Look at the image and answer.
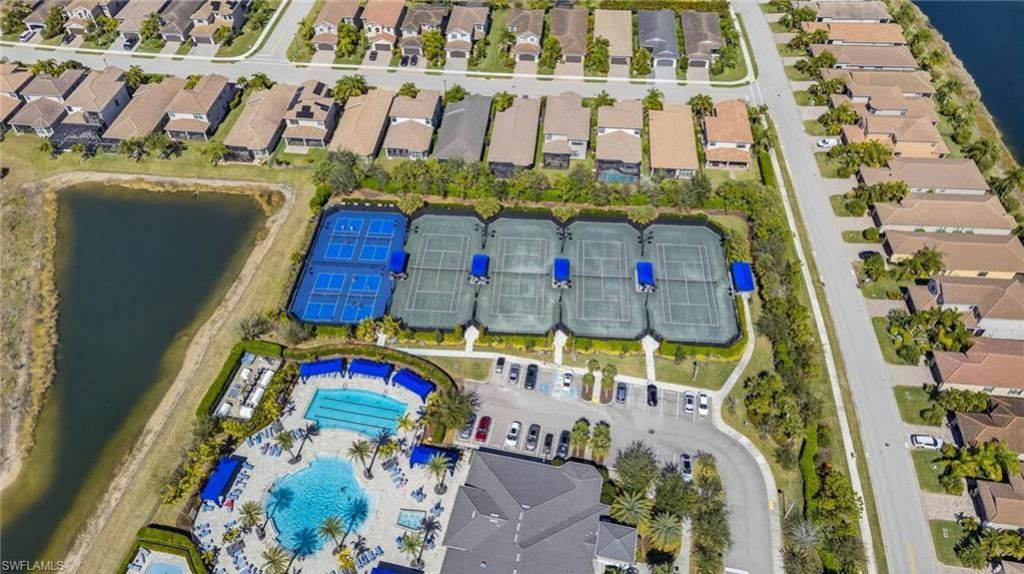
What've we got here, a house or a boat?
house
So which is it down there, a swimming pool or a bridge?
swimming pool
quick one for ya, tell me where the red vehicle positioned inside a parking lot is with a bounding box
[477,417,491,441]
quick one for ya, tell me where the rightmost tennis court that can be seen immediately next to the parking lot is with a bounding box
[643,225,738,343]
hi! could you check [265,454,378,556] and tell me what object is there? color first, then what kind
blue swimming pool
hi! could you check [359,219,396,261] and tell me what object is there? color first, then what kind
blue sports court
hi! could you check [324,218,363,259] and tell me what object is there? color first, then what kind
blue sports court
